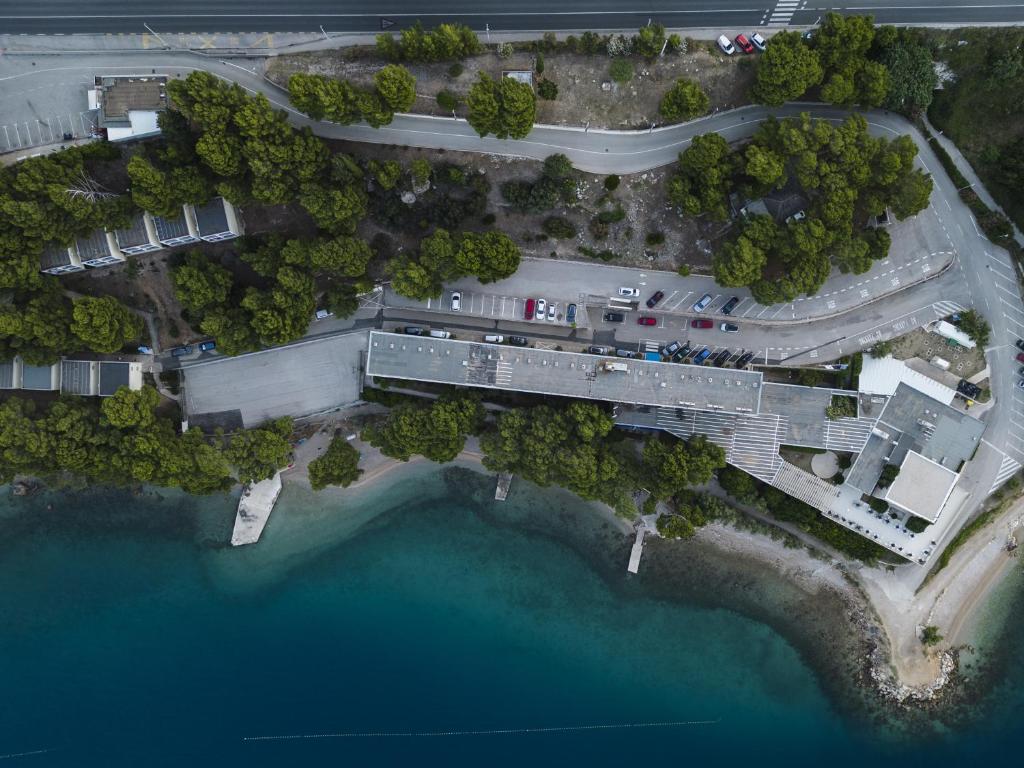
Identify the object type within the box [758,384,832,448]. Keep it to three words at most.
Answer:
building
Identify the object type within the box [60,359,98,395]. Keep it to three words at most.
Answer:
house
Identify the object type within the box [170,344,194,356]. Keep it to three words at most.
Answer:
vehicle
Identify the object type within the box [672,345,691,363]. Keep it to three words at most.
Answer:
car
